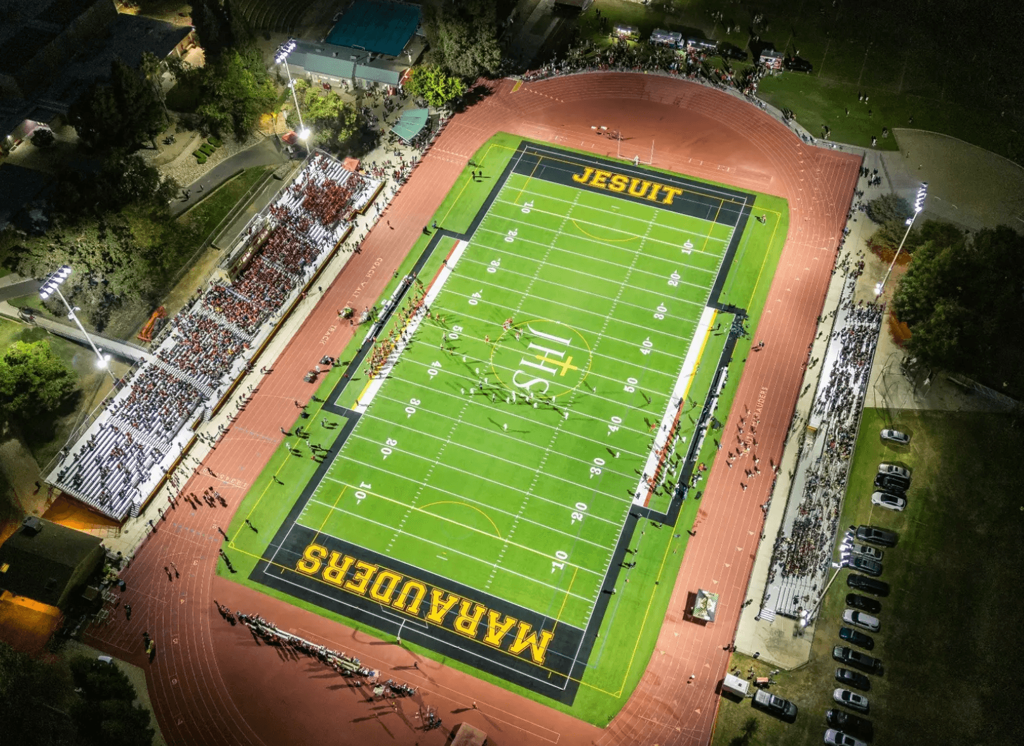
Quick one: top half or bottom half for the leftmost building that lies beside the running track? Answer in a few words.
bottom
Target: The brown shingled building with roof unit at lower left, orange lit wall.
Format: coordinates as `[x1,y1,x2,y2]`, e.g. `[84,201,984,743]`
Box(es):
[0,505,109,617]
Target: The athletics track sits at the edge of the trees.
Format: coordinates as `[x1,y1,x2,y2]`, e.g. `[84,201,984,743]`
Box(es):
[75,74,865,746]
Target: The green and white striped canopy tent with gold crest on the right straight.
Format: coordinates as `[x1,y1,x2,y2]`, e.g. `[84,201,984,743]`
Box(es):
[689,589,720,629]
